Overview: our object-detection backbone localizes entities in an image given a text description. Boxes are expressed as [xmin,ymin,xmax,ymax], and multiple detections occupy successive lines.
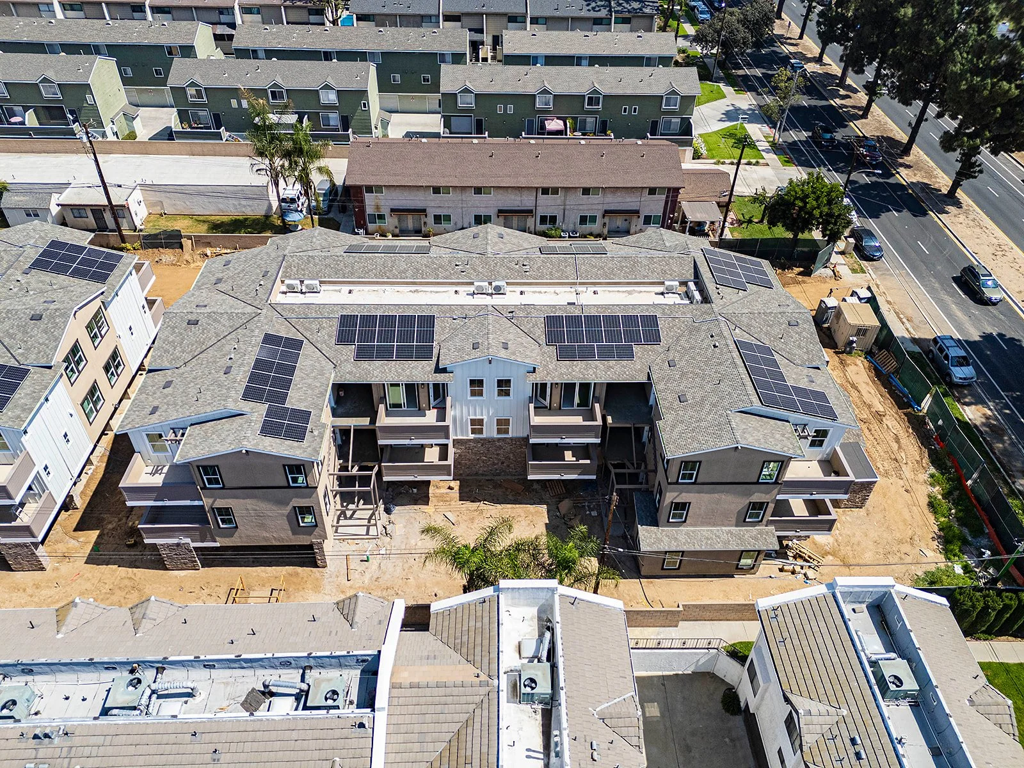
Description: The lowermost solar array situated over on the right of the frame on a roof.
[736,337,843,420]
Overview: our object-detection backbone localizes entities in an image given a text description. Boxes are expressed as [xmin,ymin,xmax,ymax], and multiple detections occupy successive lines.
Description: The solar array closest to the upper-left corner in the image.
[21,239,124,288]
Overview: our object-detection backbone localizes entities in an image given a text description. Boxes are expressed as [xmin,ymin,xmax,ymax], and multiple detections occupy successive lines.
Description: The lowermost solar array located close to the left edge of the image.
[0,364,29,405]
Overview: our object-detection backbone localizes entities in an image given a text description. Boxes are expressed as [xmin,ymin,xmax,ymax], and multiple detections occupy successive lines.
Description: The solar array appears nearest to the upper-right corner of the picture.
[703,246,779,291]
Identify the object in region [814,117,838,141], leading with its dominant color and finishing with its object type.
black car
